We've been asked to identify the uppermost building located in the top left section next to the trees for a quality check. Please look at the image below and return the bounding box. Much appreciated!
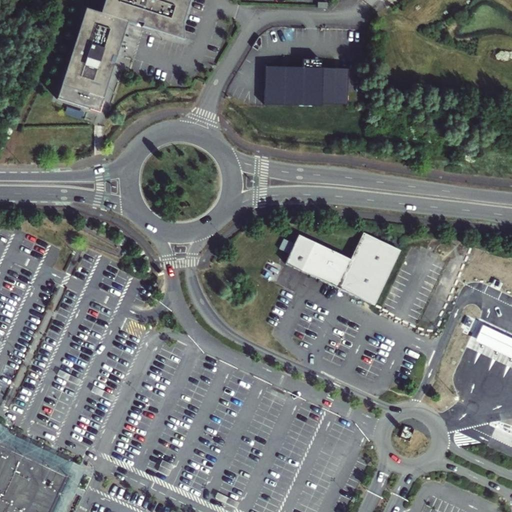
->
[57,0,195,110]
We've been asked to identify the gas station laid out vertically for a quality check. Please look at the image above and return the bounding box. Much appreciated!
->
[438,282,512,456]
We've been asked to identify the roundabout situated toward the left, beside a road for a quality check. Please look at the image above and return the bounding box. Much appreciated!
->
[119,121,242,243]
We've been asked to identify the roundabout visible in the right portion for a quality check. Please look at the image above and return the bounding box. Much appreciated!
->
[374,401,448,476]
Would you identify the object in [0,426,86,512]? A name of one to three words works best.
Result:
building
